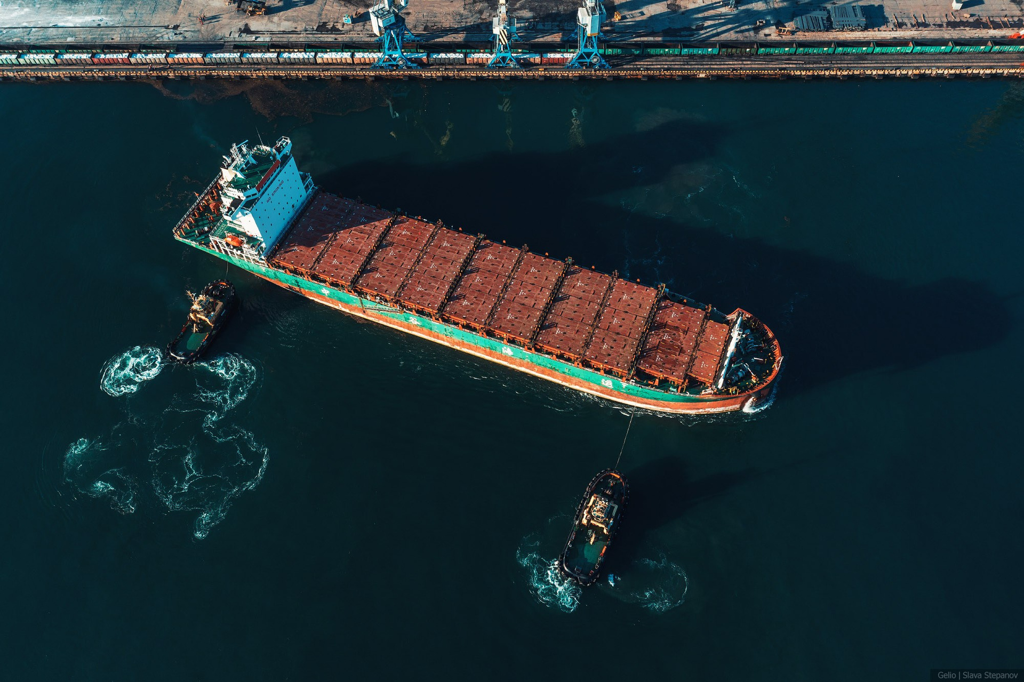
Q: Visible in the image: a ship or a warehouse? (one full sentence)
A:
Visible in the photo is a ship.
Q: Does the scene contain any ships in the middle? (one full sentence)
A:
Yes, a ship shows up in the middle.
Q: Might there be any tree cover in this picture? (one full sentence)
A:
No, the picture contains no tree cover.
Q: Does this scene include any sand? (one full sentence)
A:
No, the scene doesn't show any sand.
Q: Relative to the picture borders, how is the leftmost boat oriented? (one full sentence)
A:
I'd say the leftmost boat is aligned diagonally in the picture.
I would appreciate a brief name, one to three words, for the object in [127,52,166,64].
rail car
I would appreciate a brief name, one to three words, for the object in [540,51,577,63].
rail car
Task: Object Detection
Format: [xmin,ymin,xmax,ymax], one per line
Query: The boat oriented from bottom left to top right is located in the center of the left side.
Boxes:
[166,276,236,363]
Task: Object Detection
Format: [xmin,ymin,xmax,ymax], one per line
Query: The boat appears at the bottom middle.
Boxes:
[560,468,631,587]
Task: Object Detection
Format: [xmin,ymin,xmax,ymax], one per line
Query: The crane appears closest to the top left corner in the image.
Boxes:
[365,0,417,69]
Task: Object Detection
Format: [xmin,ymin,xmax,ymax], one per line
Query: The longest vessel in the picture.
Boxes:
[173,126,785,413]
